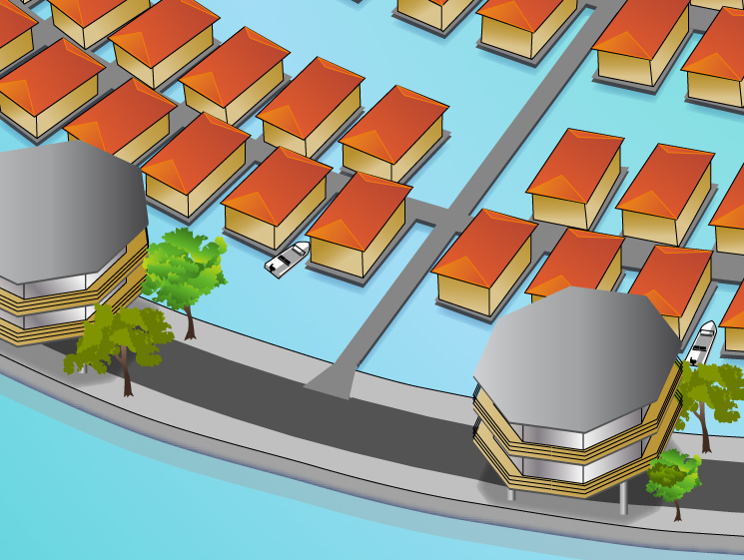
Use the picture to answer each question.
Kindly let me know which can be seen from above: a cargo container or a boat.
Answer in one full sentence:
Of the two, only a boat appears.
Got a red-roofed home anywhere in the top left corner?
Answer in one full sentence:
Yes, the scene does show a red-roofed home in the top left corner.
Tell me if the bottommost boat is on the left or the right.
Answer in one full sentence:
The bottommost boat sits on the right side.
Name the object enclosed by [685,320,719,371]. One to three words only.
boat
